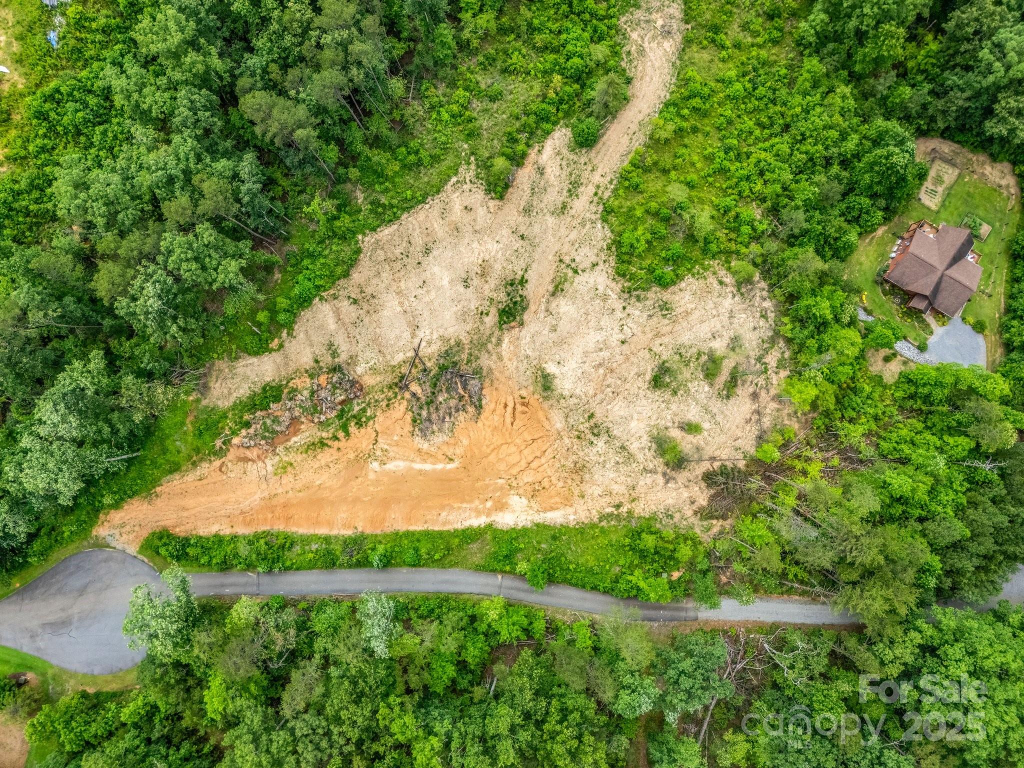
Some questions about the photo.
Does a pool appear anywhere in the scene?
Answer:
No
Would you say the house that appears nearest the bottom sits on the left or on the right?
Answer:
right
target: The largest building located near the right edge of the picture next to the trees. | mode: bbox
[877,213,985,321]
